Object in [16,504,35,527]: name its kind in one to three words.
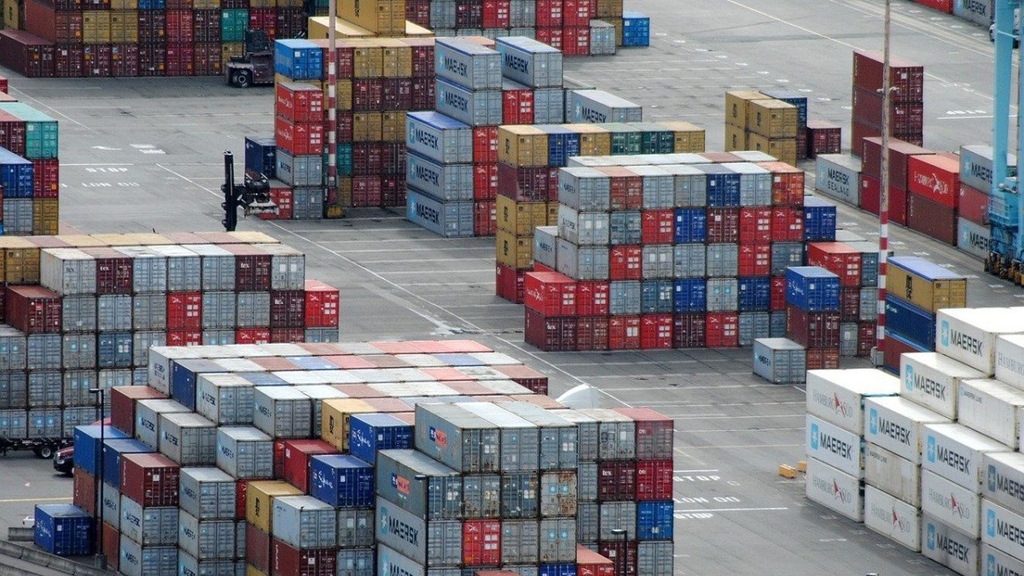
car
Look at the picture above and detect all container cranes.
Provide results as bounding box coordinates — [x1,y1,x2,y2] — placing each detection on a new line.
[984,0,1024,278]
